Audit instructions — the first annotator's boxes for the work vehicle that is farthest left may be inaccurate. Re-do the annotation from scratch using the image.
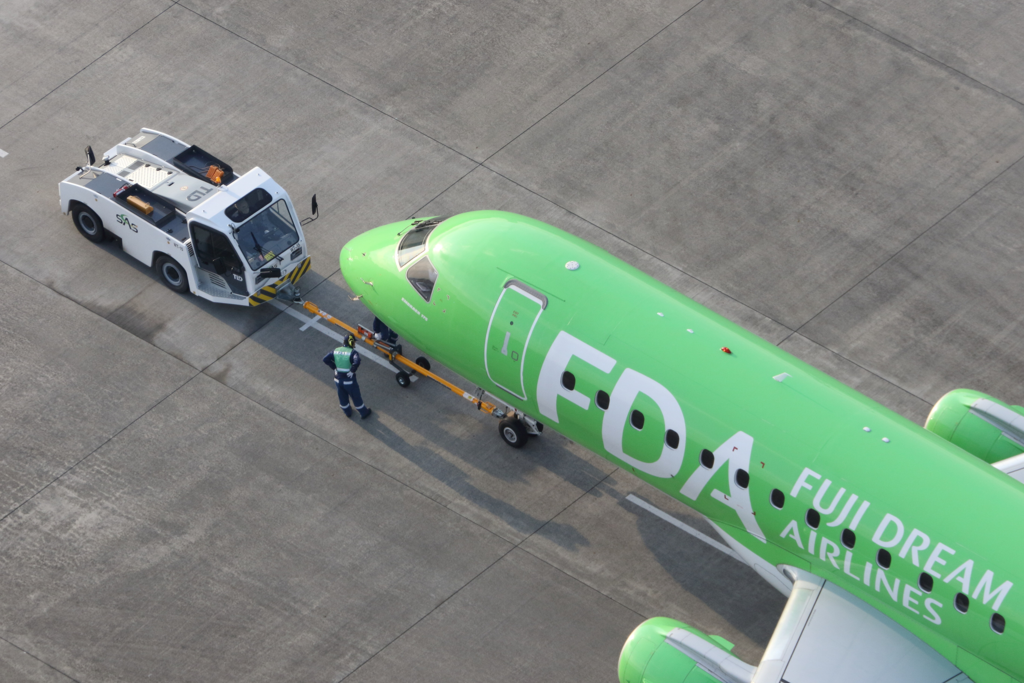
[61,130,319,309]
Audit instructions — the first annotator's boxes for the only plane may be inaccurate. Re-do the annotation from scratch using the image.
[340,209,1024,683]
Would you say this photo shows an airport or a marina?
airport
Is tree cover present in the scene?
No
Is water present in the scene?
No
